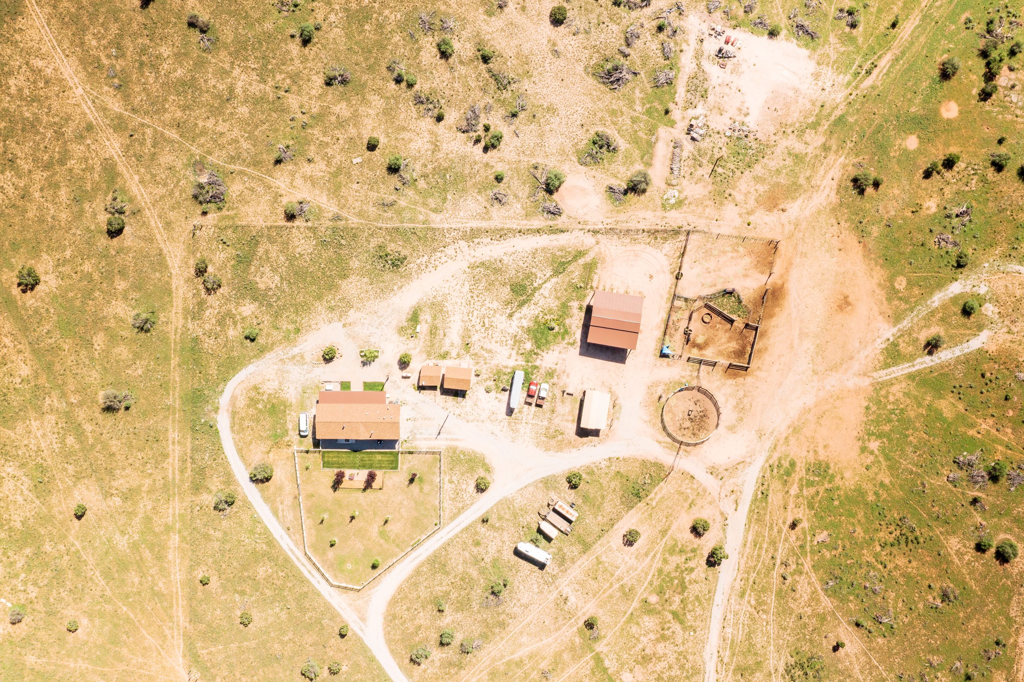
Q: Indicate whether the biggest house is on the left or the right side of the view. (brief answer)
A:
left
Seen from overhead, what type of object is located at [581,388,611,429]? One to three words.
building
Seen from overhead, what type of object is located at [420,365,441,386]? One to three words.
shed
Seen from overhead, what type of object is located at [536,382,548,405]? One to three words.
vehicle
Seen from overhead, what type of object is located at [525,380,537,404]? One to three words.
vehicle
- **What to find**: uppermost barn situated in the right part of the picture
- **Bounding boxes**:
[586,291,643,350]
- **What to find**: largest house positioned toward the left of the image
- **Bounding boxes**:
[315,391,400,443]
